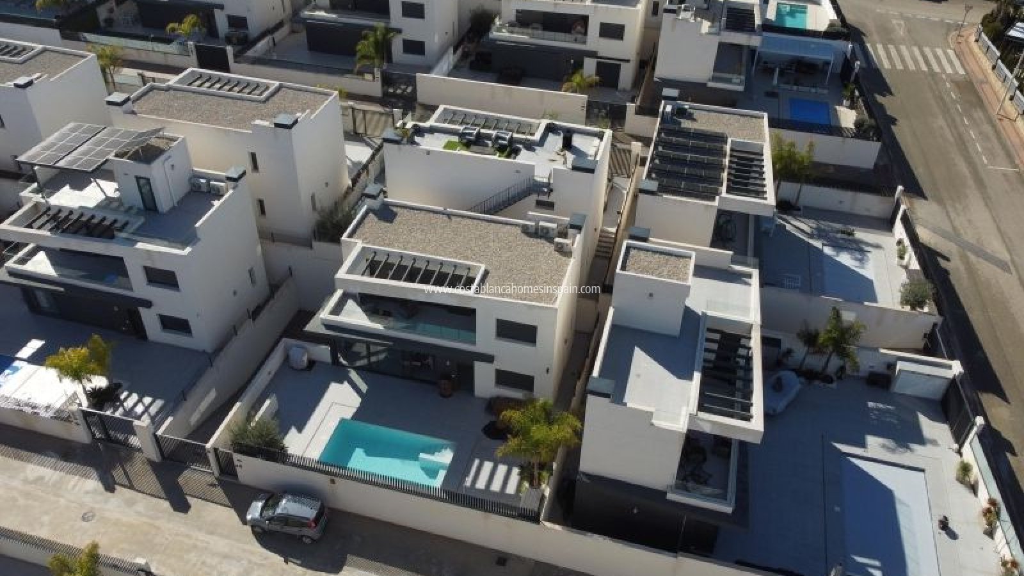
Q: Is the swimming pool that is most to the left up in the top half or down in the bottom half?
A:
bottom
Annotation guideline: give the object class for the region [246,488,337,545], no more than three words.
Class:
car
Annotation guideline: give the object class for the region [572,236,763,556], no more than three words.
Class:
house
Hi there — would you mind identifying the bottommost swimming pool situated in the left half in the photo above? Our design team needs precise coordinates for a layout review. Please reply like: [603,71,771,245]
[311,412,466,492]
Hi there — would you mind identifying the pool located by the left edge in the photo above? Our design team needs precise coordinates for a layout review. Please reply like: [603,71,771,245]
[0,357,46,405]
